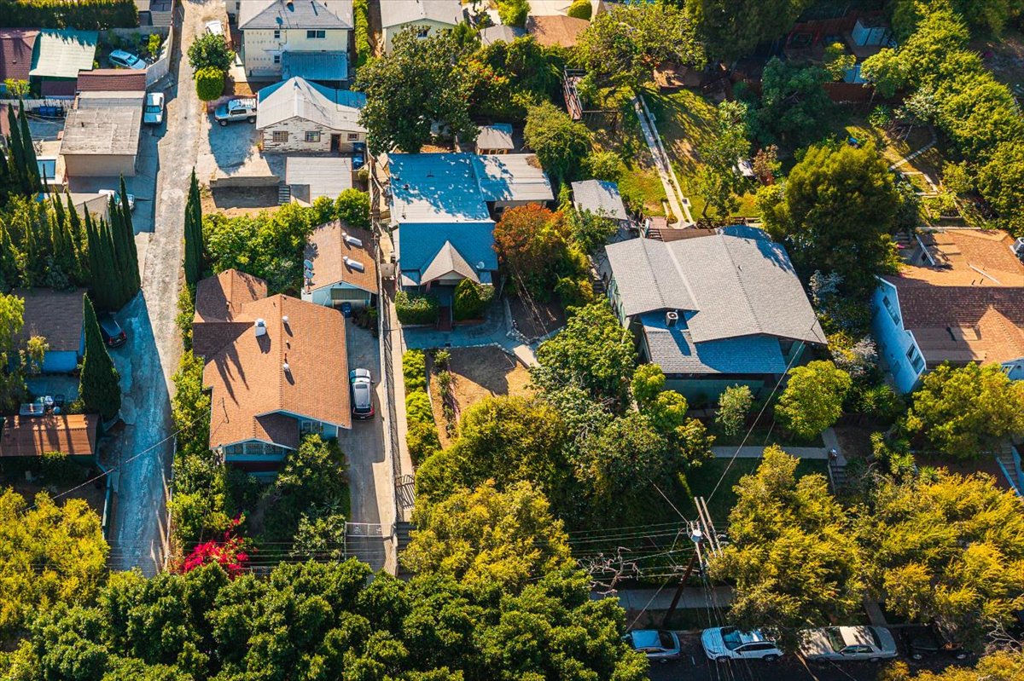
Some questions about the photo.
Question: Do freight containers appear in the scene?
No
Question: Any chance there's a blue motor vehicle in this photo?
Yes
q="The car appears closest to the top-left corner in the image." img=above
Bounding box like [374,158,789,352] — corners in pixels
[109,49,147,69]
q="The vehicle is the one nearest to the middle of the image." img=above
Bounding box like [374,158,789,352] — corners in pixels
[349,372,377,422]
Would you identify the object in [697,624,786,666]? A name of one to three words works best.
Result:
car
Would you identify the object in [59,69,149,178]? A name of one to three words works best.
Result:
building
